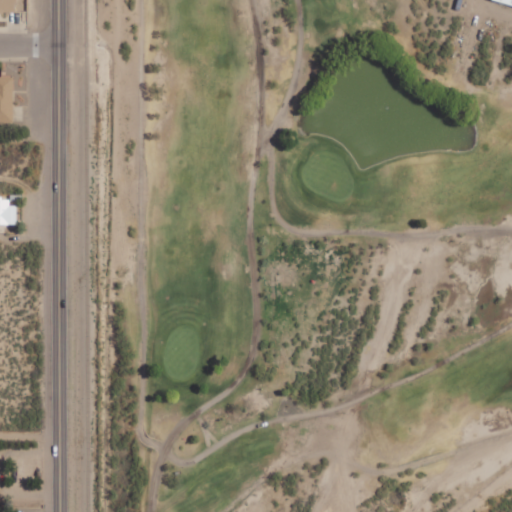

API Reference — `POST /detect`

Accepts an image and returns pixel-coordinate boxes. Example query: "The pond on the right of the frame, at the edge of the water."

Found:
[299,46,476,168]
